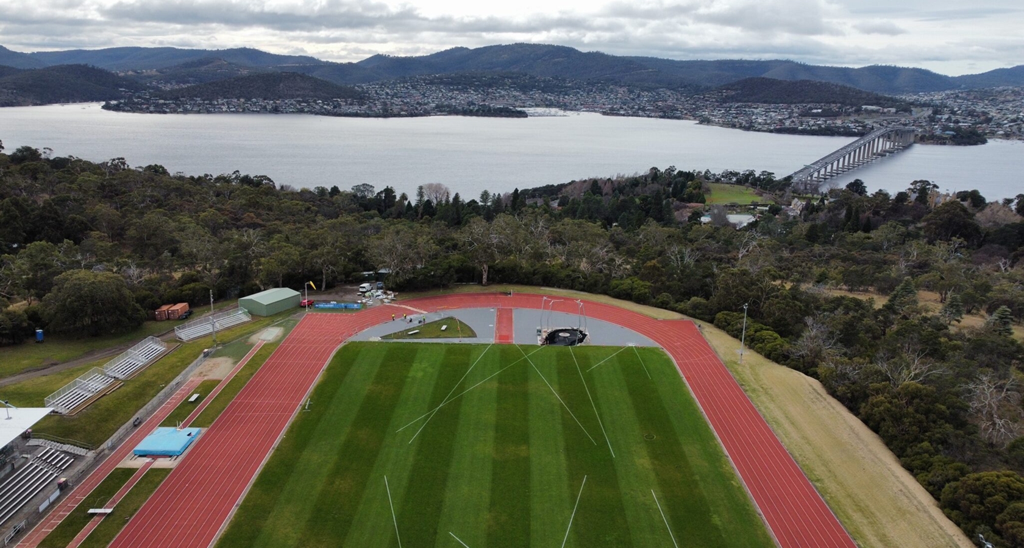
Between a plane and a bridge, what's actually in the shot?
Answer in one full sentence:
This aerial view contains a bridge.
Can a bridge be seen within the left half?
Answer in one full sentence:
No, no bridge can be made out within the left half.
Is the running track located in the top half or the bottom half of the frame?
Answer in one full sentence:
The bottom half of the photo is where the running track is.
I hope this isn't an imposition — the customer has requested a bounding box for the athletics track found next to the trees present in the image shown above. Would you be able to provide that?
[108,294,857,548]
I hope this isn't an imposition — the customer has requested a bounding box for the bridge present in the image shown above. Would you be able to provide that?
[774,129,938,187]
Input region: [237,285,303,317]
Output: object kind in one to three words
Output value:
shed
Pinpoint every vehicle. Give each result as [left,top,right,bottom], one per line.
[357,280,375,290]
[378,278,389,287]
[302,298,317,306]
